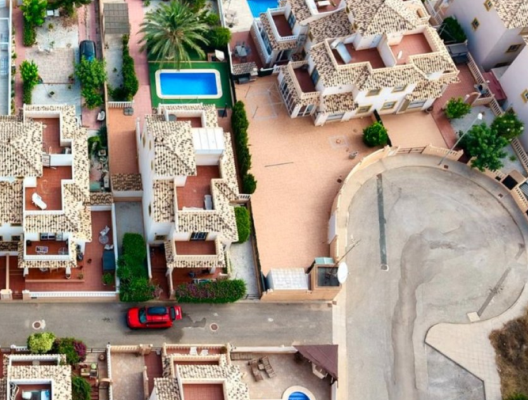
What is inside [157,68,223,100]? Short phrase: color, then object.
blue swimming pool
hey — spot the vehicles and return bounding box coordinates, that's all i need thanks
[123,304,189,335]
[77,40,98,63]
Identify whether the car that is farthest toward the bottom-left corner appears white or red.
red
